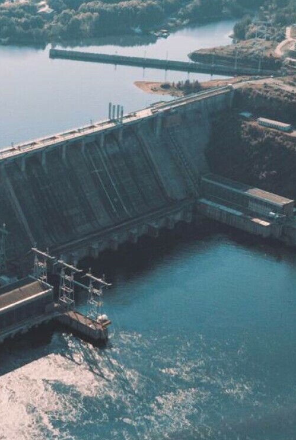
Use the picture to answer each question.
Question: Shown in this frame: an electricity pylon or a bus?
electricity pylon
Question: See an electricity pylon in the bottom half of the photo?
Yes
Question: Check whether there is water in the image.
Yes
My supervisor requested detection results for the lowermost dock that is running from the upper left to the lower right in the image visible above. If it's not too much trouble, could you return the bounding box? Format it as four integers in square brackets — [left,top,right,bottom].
[49,291,117,339]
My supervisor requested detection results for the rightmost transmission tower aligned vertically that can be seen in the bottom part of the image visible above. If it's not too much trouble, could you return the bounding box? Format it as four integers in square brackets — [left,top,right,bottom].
[86,266,111,322]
